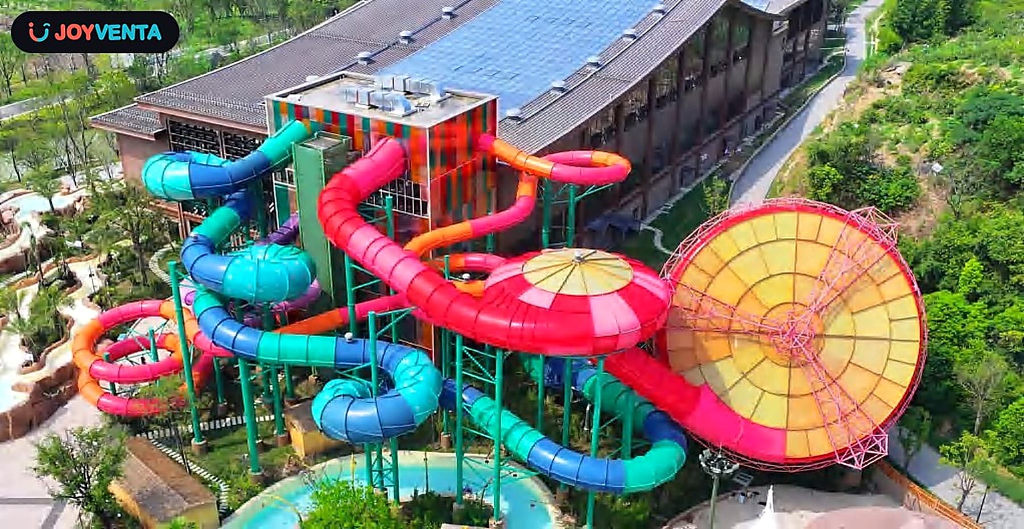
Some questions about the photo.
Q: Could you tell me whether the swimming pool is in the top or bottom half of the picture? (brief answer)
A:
bottom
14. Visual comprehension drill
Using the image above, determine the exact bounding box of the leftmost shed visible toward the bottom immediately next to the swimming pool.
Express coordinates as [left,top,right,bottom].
[102,442,220,529]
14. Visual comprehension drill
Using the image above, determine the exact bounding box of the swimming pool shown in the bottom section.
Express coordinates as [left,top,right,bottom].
[247,461,545,529]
